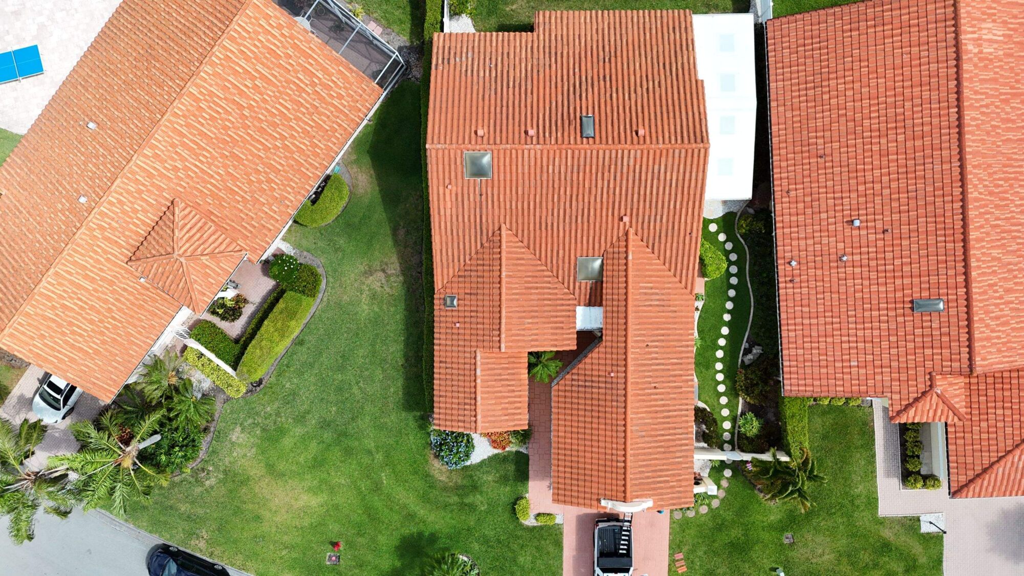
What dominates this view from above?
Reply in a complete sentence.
The largest share of the image is taken up by buildings.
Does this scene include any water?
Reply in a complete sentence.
No, there is no water in the image.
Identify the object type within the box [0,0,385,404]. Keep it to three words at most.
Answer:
house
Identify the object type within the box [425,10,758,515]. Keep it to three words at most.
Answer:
house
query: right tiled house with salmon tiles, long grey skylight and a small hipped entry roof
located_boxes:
[759,0,1024,501]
